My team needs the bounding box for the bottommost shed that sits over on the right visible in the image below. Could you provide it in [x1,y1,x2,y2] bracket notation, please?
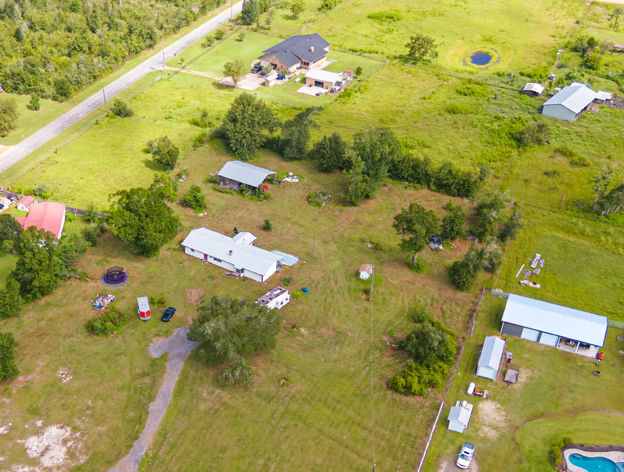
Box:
[445,409,470,436]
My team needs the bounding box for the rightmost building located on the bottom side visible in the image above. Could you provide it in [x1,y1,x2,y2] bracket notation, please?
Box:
[500,294,607,360]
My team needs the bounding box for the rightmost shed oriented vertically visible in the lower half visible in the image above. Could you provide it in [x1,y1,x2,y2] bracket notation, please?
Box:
[477,335,503,379]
